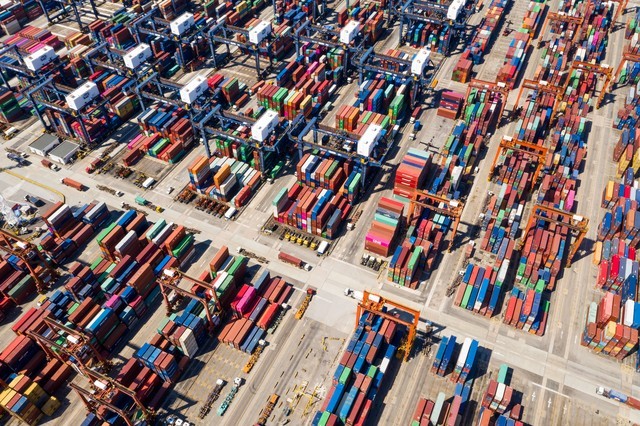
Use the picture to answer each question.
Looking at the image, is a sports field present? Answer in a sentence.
No, no sports field is visible in the scene.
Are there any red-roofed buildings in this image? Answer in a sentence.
No, the frame has no red-roofed building in it.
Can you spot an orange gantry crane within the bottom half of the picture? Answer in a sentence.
Yes, looking within the bottom half of the picture, one can make out an orange gantry crane.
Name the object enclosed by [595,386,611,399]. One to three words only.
vehicle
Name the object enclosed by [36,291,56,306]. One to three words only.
vehicle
